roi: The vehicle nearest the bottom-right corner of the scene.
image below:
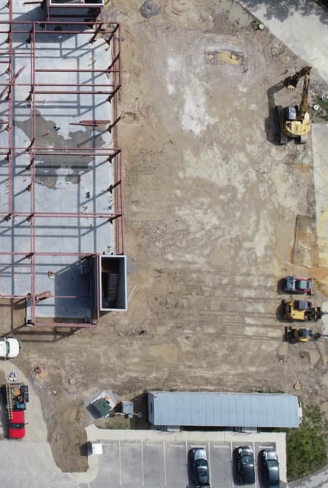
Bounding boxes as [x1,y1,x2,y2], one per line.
[259,451,279,488]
